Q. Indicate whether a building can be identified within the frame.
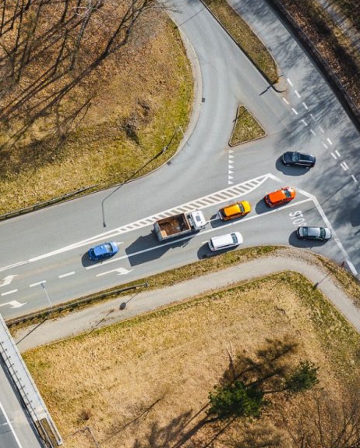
No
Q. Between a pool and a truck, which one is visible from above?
truck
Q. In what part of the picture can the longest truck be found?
center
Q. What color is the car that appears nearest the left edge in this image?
blue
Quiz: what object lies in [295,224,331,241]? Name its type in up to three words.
car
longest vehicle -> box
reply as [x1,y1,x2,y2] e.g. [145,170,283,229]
[147,206,215,248]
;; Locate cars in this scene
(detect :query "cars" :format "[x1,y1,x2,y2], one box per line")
[217,200,250,221]
[280,150,317,169]
[87,241,119,262]
[295,224,331,241]
[262,186,295,207]
[205,231,243,251]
